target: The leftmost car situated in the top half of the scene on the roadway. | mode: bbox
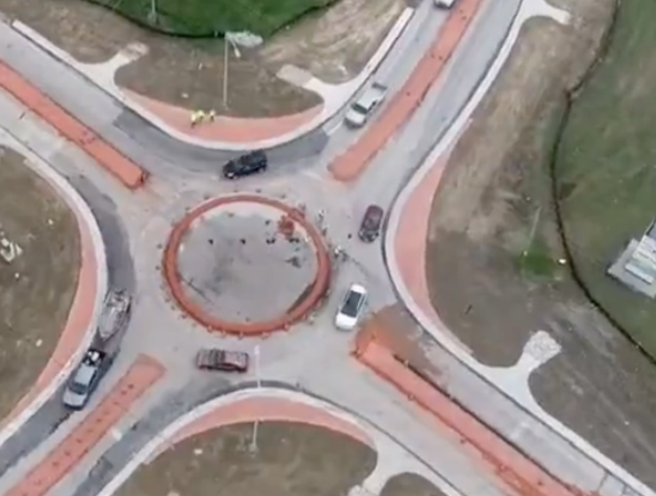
[222,148,268,181]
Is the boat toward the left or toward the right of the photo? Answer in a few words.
left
